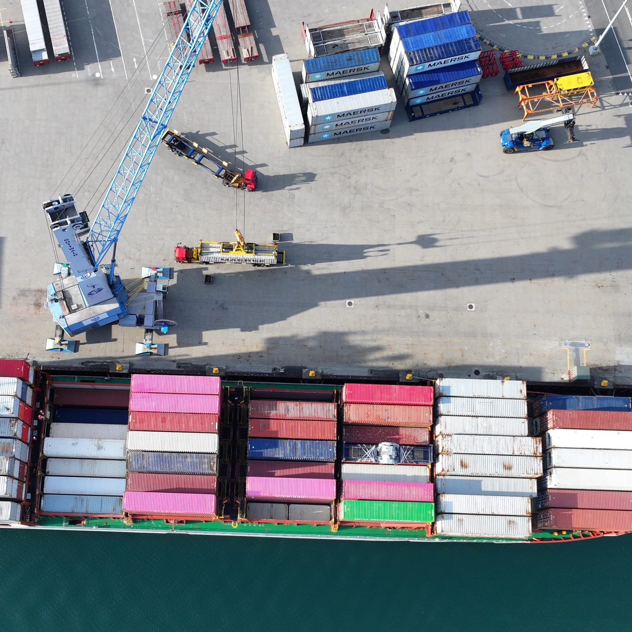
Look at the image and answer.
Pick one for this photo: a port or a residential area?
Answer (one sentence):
What you see here is a port.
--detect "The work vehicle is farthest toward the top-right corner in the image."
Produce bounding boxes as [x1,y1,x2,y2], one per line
[502,108,579,155]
